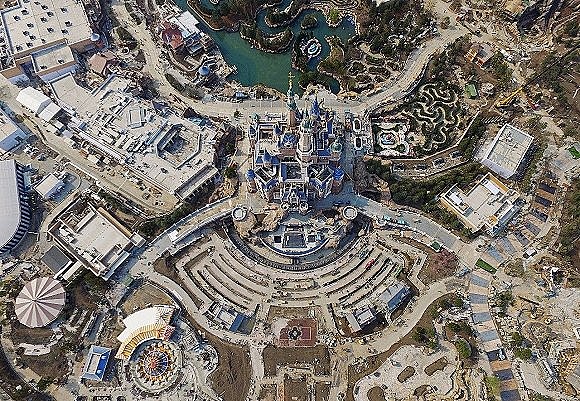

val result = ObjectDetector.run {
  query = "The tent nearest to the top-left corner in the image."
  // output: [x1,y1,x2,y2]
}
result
[16,87,52,115]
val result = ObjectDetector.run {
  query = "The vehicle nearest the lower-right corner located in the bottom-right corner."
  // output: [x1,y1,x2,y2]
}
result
[496,347,508,362]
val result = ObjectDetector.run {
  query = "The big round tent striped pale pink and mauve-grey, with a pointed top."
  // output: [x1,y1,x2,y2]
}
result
[15,277,67,328]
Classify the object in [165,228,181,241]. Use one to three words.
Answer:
vehicle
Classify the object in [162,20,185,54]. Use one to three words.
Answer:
house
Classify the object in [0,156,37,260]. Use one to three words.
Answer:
stadium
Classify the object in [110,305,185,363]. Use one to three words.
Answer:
building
